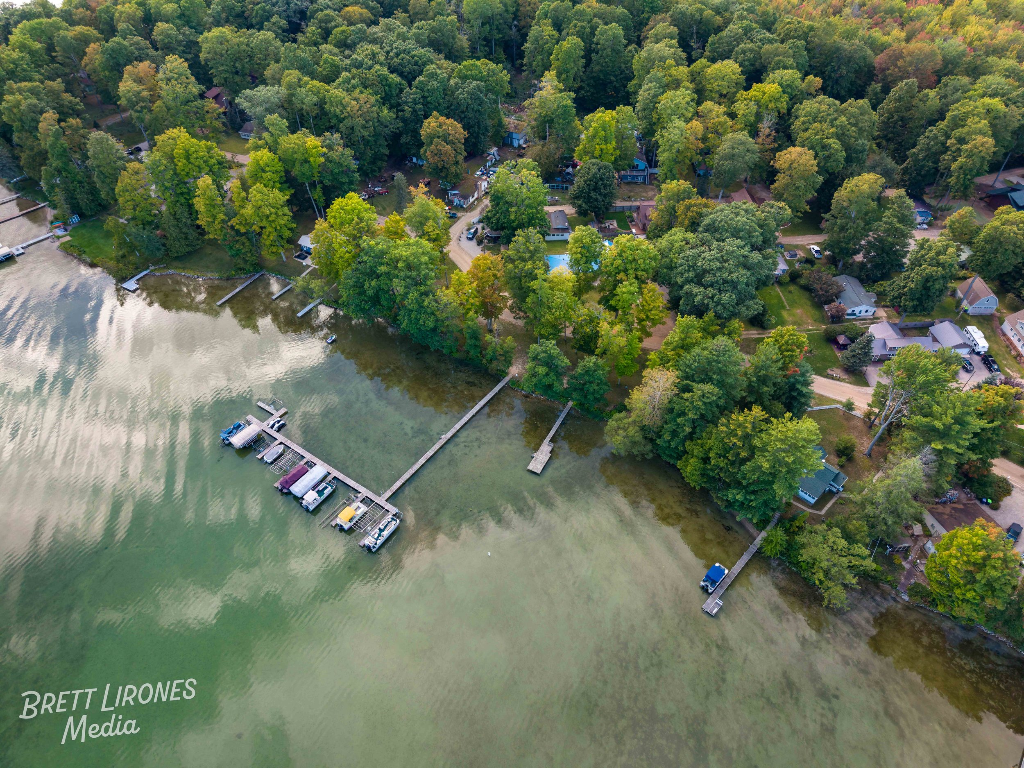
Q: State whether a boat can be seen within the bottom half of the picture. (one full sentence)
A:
Yes, within the bottom half of the picture there is a boat.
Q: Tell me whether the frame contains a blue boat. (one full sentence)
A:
Yes, there is a blue boat in the image.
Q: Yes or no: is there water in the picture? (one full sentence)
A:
Yes, there is water in the image.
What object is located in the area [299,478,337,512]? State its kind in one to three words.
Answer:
boat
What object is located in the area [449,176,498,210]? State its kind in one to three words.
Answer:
house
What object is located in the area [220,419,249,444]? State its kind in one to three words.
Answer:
boat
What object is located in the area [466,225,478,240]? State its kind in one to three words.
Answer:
vehicle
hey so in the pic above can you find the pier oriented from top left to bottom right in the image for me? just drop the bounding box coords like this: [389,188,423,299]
[245,402,398,549]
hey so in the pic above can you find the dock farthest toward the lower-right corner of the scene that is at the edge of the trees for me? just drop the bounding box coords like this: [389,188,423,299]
[702,530,768,617]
